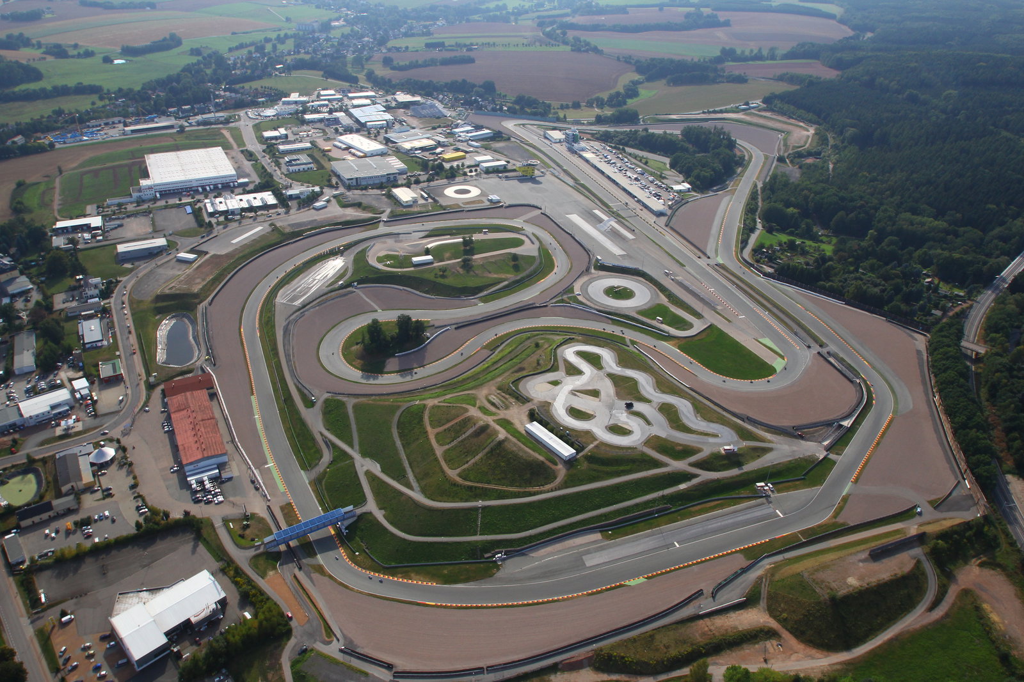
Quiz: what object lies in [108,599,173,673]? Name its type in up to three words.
building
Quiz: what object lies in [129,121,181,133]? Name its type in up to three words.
building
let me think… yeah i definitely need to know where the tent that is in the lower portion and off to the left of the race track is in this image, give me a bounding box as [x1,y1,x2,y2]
[90,447,118,469]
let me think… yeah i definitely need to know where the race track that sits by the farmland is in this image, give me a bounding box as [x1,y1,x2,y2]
[244,118,894,603]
